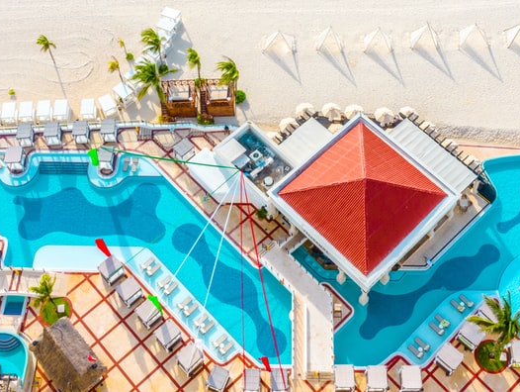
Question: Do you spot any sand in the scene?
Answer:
Yes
